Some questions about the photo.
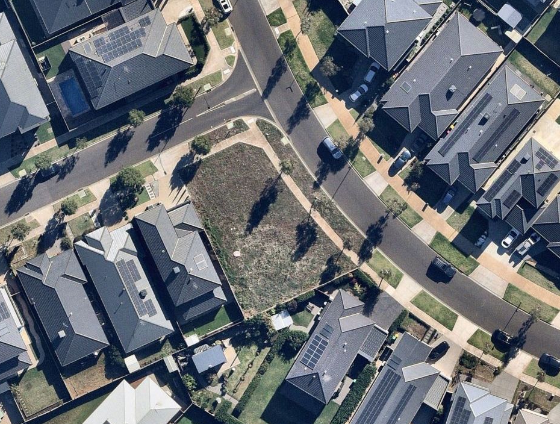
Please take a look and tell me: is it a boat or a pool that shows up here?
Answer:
pool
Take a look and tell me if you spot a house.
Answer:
Yes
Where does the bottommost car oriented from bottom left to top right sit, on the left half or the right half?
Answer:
right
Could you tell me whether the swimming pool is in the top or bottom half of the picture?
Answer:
top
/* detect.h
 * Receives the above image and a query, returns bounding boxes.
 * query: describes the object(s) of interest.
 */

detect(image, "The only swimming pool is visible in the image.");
[59,75,90,113]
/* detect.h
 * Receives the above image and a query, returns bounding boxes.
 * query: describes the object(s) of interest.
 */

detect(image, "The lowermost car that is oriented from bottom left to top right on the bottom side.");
[429,337,452,365]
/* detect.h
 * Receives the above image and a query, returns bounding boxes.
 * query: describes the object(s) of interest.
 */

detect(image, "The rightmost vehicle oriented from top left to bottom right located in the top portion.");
[321,132,345,163]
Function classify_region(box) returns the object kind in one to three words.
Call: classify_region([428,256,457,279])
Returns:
car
